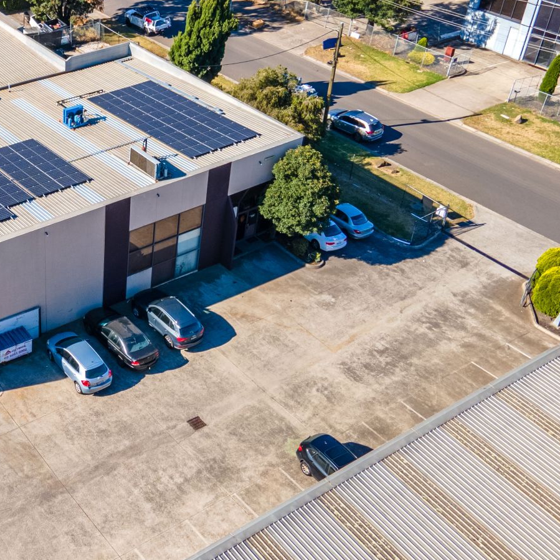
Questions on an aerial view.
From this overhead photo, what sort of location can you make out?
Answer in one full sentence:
This looks like an industrial area.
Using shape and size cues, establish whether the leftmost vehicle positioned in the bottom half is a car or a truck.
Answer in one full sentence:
The leftmost vehicle positioned in the bottom half in the image is a car.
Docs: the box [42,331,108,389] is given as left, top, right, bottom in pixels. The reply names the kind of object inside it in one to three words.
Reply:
car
